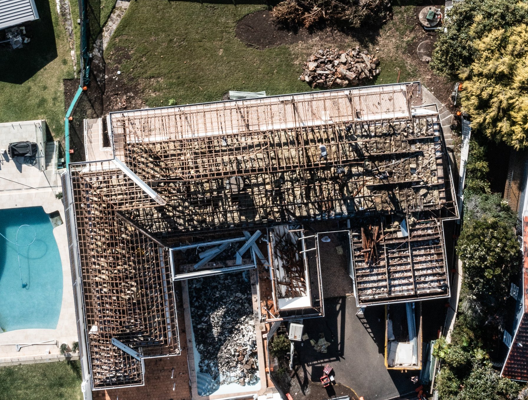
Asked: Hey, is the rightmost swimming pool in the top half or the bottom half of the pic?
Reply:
bottom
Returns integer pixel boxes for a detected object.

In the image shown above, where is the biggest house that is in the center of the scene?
[67,80,461,396]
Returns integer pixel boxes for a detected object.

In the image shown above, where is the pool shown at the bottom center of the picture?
[189,271,260,397]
